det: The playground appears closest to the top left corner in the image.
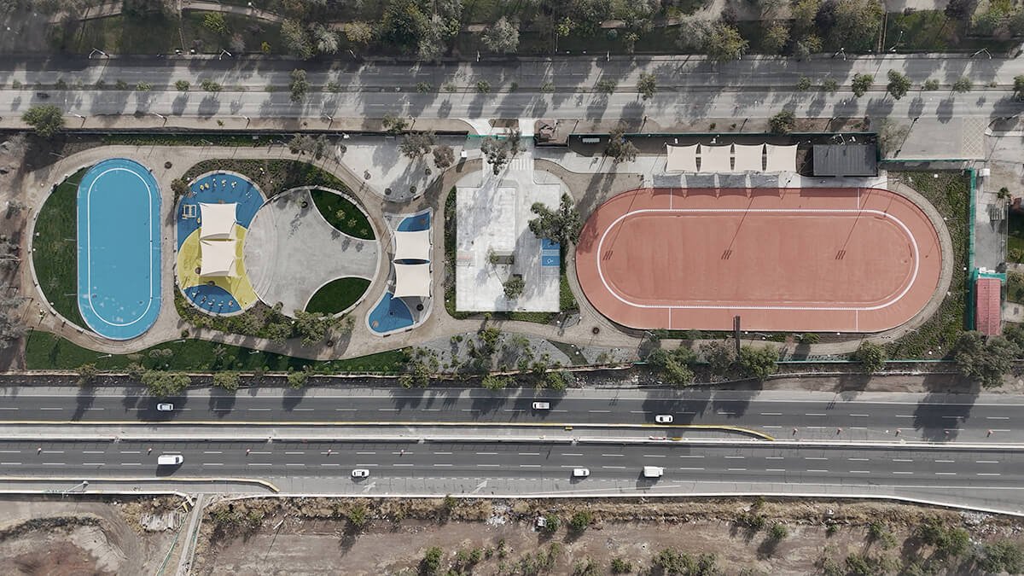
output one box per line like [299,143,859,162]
[174,170,261,317]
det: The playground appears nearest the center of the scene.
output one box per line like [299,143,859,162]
[366,206,435,336]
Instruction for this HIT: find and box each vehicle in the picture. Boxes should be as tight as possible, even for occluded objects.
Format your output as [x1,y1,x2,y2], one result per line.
[656,415,673,423]
[351,470,369,478]
[643,468,665,479]
[156,403,173,412]
[532,402,550,411]
[573,468,590,477]
[152,455,182,466]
